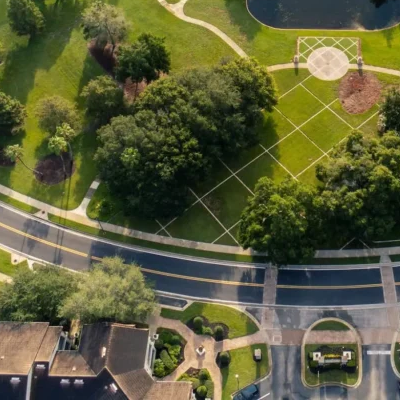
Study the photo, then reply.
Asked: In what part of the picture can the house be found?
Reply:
bottom left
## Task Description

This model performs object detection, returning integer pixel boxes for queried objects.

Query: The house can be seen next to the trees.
[0,322,194,400]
